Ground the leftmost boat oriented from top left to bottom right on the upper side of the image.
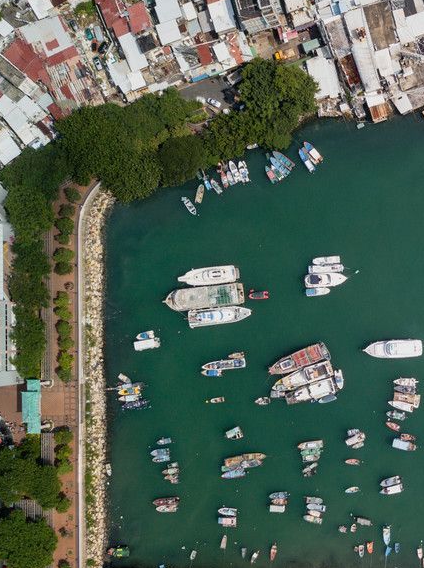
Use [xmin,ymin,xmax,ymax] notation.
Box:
[182,196,197,214]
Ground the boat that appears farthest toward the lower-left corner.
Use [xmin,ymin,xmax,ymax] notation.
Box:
[109,546,131,559]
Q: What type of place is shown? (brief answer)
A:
residential area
